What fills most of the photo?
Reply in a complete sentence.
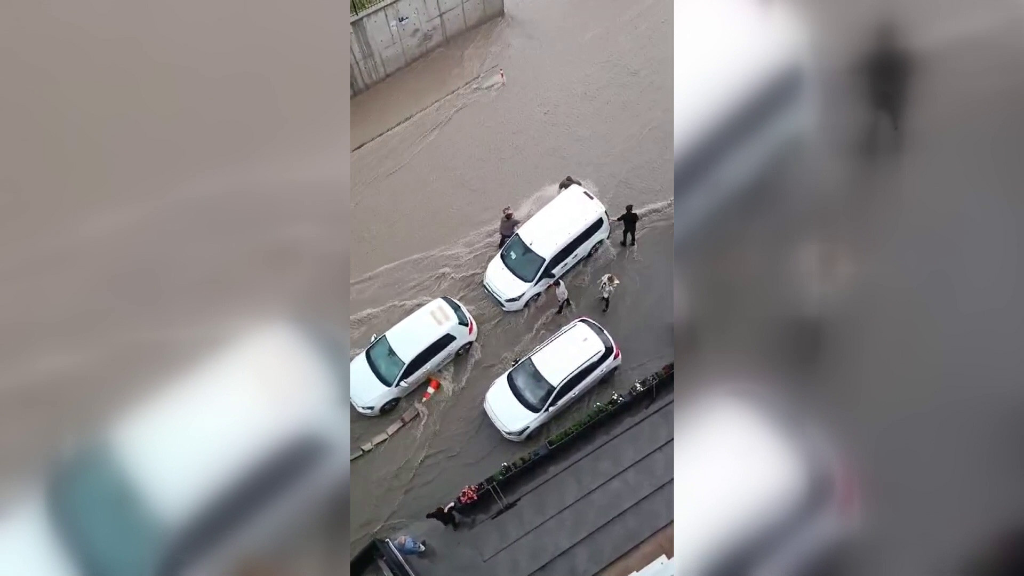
For the most part, this view shows water.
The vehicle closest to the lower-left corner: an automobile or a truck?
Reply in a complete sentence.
The vehicle closest to the lower-left corner appears to be an automobile.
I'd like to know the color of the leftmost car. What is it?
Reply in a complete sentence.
In this view, the leftmost car is white.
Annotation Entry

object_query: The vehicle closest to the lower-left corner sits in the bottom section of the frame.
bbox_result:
[342,297,476,414]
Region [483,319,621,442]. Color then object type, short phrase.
white car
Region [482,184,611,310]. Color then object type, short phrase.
white vehicle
